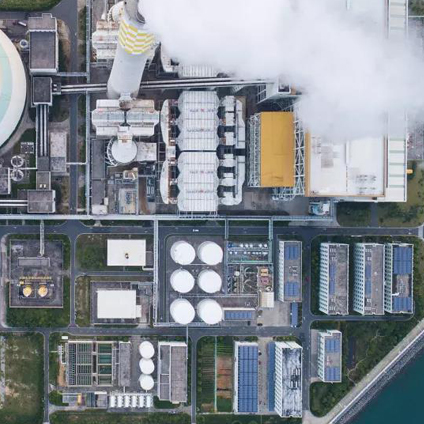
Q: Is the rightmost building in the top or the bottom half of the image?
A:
bottom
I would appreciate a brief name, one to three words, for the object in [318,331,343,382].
building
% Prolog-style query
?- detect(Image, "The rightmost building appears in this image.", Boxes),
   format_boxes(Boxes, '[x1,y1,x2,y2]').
[385,241,413,313]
